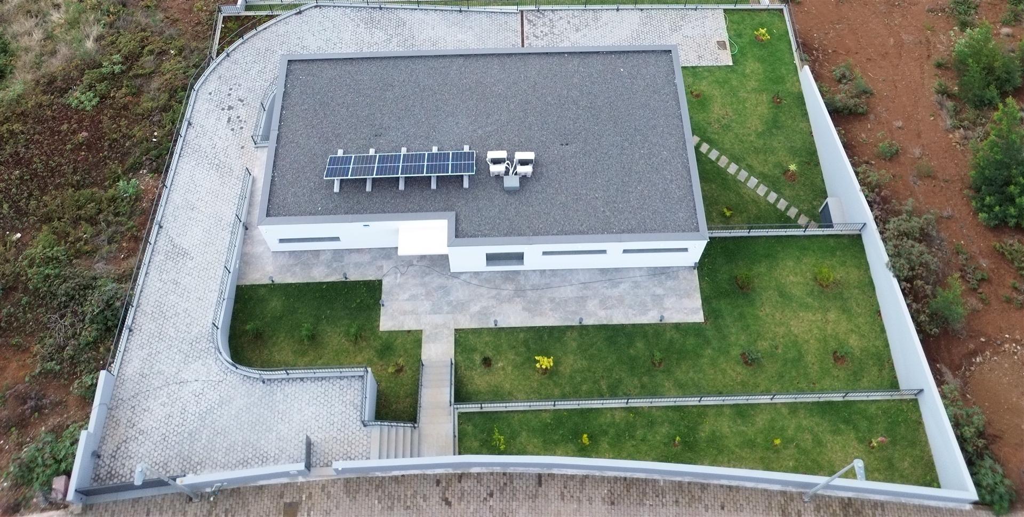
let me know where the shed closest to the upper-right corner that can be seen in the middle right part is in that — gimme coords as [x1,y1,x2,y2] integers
[821,196,848,228]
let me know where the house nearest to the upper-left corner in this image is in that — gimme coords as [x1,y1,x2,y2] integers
[259,45,708,274]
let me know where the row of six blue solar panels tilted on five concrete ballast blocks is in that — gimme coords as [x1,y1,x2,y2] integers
[324,146,476,194]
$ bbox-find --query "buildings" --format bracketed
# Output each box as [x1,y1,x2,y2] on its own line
[821,196,848,228]
[259,45,708,274]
